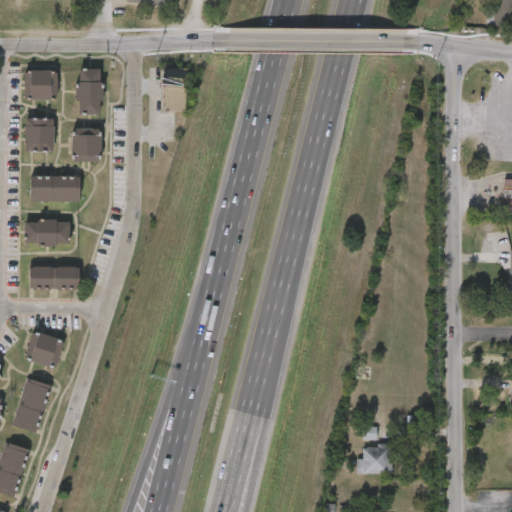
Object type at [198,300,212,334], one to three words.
vehicle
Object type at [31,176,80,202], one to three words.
building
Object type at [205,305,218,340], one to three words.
vehicle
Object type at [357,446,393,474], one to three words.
house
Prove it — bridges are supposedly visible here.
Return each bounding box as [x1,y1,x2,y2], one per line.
[214,28,420,54]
